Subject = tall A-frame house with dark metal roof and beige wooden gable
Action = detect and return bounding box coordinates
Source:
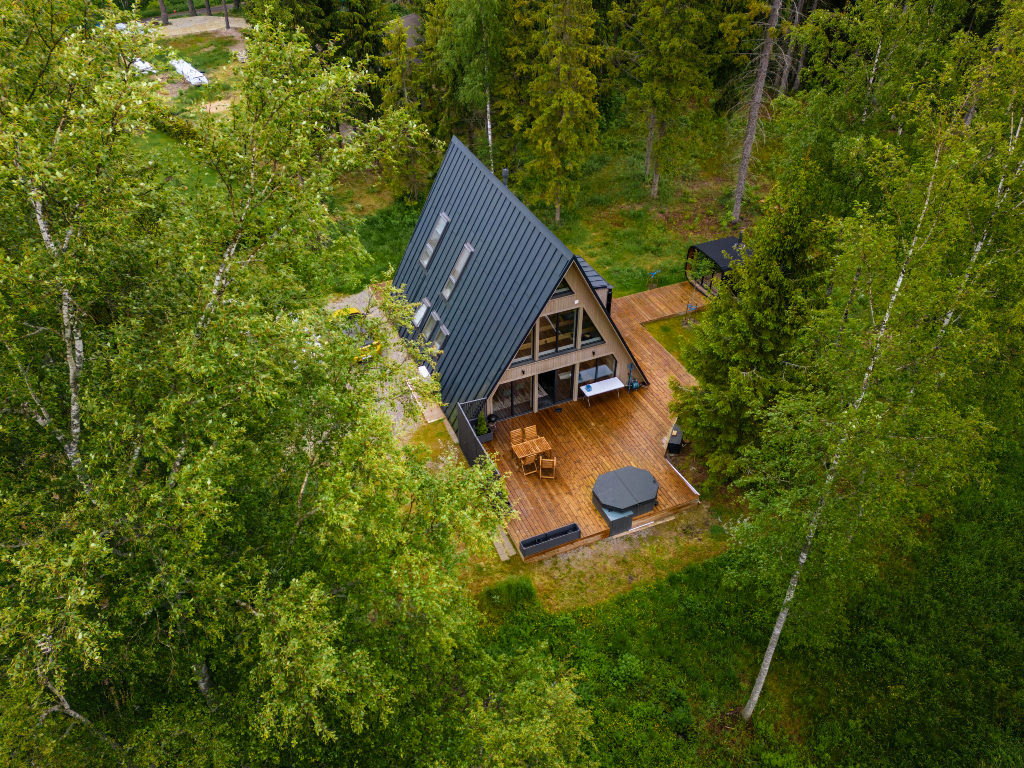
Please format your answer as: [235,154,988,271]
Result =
[383,134,651,455]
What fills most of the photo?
trees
